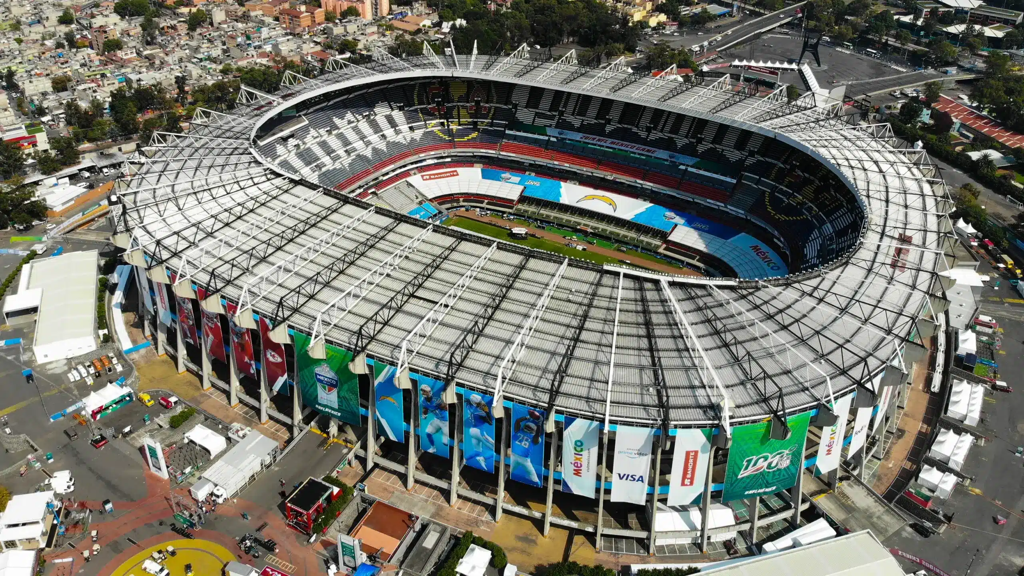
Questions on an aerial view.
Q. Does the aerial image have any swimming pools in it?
No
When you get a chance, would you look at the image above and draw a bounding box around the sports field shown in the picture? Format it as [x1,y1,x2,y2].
[443,222,651,268]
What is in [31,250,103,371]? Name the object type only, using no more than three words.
building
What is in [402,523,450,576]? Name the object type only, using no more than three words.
building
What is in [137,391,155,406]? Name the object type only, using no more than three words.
vehicle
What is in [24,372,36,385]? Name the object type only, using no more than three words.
vehicle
